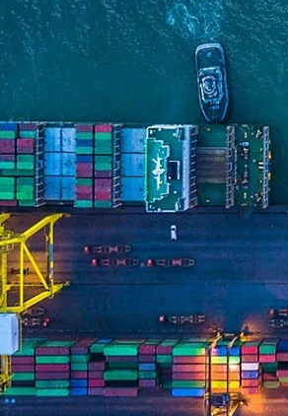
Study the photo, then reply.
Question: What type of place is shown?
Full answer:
This looks like a port.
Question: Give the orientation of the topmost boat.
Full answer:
Seen from above, the topmost boat lies vertically.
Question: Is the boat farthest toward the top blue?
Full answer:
Yes, the boat farthest toward the top is indeed blue.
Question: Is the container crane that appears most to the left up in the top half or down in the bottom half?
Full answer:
The container crane that appears most to the left sits in the bottom half of the picture.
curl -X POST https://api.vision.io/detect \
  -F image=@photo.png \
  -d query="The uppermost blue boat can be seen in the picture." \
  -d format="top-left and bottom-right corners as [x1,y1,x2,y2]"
[195,43,229,122]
